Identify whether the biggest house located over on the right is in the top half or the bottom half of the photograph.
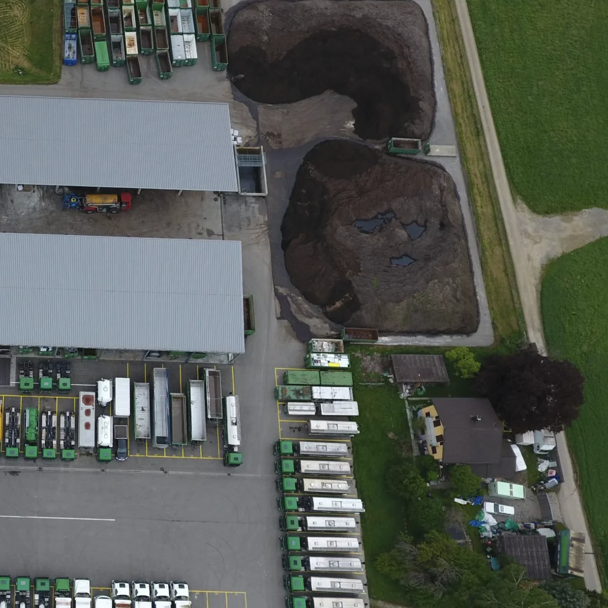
bottom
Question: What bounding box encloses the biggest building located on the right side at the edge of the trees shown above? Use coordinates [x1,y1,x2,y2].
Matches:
[417,398,516,479]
